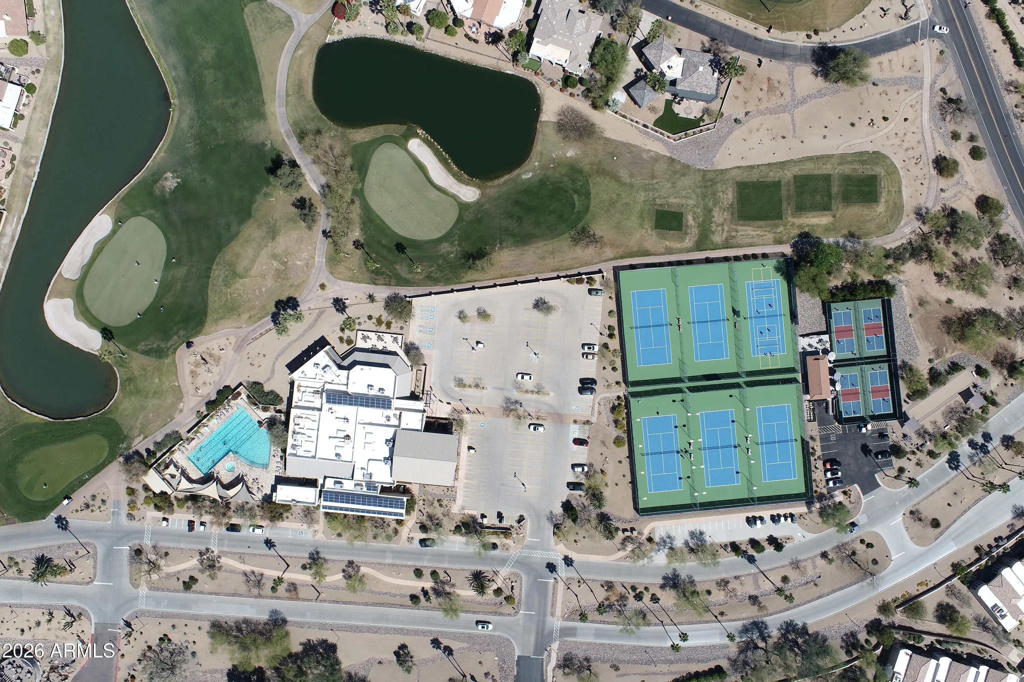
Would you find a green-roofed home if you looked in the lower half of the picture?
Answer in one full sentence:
No, I see no green-roofed home in the lower half of the picture.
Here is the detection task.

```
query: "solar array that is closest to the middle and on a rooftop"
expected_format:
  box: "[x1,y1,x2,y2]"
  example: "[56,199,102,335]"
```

[325,394,392,409]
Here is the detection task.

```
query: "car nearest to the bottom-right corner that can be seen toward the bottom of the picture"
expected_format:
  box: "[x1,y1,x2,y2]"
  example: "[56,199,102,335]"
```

[844,522,860,534]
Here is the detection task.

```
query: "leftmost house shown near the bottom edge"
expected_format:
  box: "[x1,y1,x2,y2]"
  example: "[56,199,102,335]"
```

[881,641,938,682]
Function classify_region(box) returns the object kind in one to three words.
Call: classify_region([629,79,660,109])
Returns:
shed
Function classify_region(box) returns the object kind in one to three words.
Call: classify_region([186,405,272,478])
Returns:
swimming pool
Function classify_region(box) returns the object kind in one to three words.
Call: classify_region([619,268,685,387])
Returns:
tennis court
